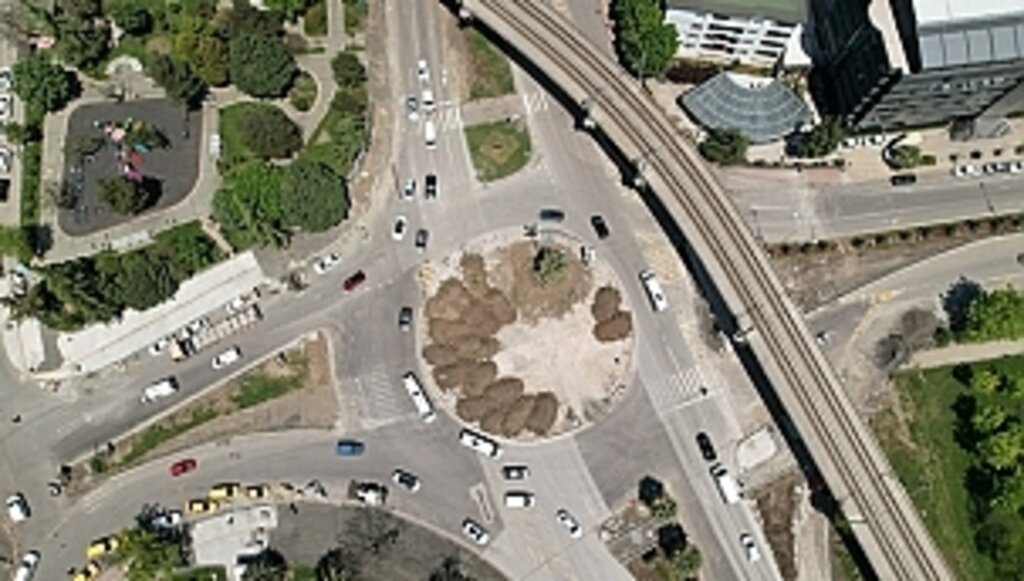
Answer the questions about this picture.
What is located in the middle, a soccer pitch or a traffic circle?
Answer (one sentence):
Visible in the middle is a traffic circle.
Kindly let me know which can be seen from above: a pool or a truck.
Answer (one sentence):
There is a truck in the scene.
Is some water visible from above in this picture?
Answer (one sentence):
No, no water is visible.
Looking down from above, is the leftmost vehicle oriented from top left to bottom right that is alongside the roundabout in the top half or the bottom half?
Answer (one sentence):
Seen from above, the leftmost vehicle oriented from top left to bottom right that is alongside the roundabout lies in the bottom half of the view.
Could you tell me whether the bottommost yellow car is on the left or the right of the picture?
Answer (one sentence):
The bottommost yellow car appears in the left half of the scene.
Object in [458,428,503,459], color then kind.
white vehicle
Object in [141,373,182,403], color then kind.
white van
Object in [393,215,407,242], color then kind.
white car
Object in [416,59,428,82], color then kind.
white vehicle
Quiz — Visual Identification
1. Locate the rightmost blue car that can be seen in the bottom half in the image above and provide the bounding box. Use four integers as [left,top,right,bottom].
[335,441,365,456]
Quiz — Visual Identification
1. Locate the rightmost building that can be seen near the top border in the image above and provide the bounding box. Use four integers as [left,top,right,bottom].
[804,0,1024,126]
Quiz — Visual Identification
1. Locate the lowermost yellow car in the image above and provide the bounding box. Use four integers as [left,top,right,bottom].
[67,561,102,581]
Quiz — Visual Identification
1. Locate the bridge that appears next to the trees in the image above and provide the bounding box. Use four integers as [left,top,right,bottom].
[461,0,952,581]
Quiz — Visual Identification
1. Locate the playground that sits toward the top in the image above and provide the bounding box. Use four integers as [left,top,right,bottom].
[57,98,203,237]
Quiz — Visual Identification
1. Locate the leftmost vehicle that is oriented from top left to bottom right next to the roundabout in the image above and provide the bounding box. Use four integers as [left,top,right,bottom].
[400,372,436,422]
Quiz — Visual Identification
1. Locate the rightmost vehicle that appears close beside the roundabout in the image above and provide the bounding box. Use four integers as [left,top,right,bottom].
[638,272,669,312]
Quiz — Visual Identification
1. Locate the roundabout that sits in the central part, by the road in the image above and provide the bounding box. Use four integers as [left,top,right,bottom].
[419,232,635,444]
